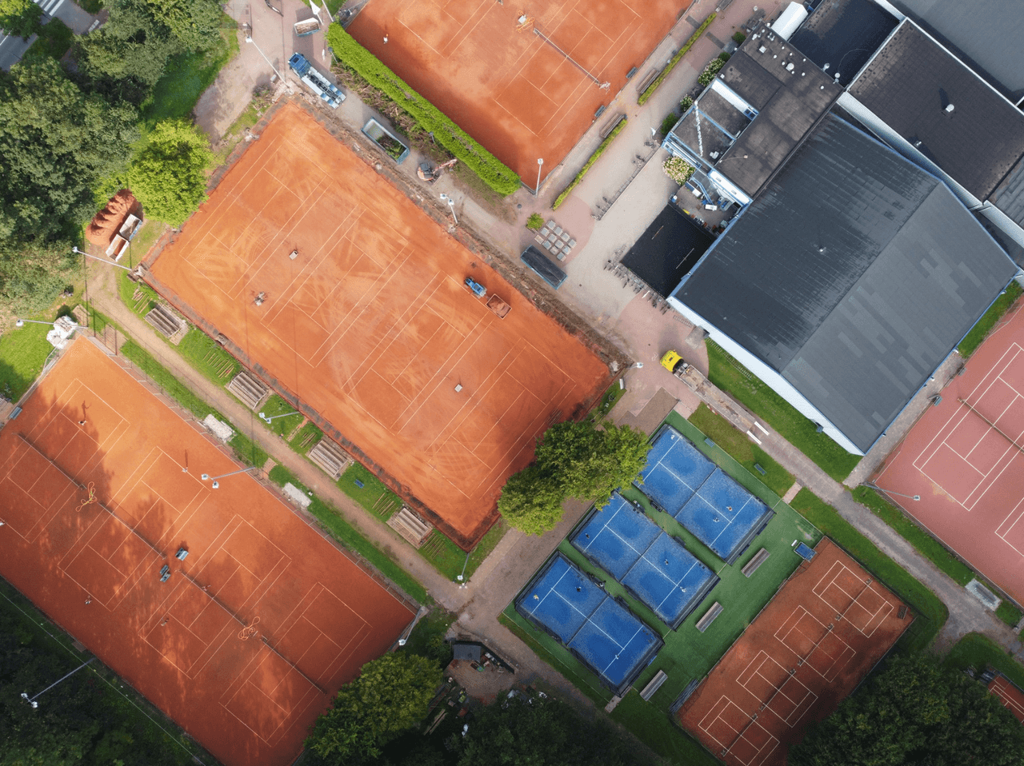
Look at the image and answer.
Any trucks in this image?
Yes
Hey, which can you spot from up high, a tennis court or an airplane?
tennis court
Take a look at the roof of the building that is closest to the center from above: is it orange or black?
black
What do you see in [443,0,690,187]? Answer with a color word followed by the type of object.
orange tennis court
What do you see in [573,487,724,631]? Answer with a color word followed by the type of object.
blue sports court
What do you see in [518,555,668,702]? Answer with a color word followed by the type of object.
blue sports court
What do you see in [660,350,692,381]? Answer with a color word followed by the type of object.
yellow truck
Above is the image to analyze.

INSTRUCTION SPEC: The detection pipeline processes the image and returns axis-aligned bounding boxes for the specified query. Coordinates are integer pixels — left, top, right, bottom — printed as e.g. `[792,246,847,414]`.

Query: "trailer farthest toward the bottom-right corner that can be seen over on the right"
[682,365,767,442]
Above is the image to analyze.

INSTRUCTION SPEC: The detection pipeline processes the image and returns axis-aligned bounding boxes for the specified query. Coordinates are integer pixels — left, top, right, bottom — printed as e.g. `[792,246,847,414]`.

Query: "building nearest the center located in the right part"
[617,202,718,300]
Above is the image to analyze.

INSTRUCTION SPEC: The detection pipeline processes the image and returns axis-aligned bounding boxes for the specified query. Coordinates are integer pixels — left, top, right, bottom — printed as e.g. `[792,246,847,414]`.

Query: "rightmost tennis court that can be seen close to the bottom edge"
[980,676,1024,732]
